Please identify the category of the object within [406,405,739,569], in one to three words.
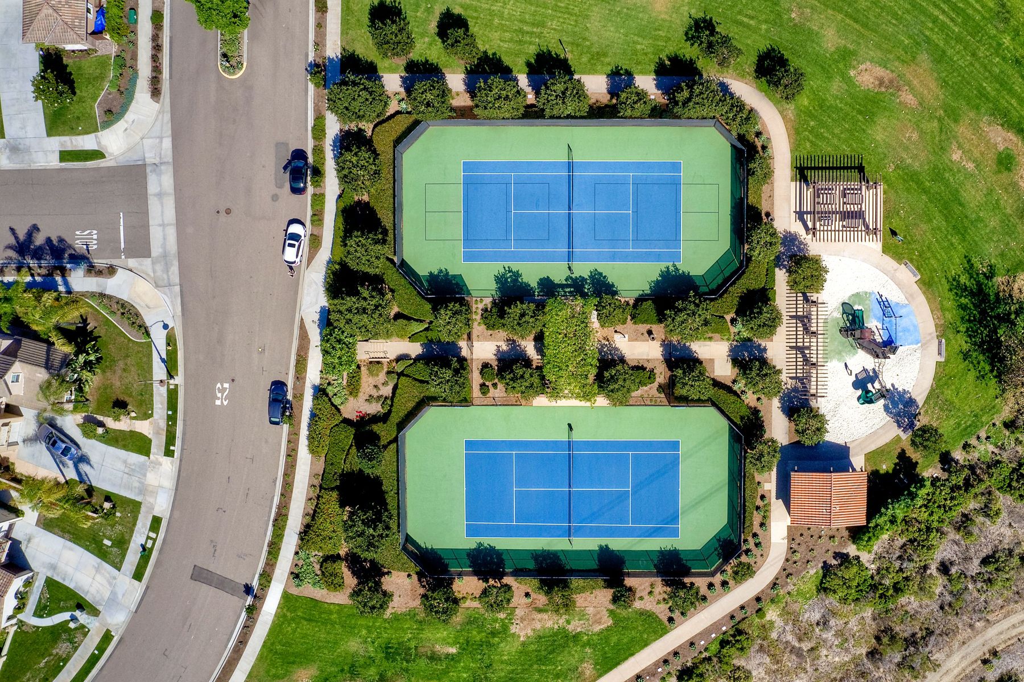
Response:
tennis court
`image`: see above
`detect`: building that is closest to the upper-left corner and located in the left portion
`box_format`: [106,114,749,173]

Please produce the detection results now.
[22,0,98,49]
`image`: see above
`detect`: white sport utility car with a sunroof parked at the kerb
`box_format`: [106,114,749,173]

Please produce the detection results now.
[282,219,307,264]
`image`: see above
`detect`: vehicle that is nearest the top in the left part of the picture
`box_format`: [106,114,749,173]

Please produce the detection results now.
[281,149,309,194]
